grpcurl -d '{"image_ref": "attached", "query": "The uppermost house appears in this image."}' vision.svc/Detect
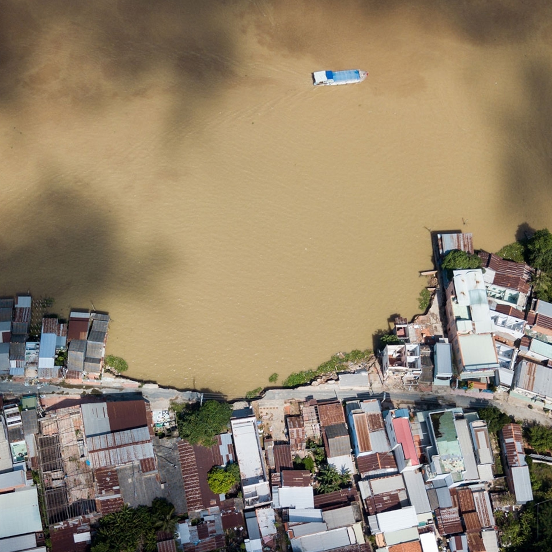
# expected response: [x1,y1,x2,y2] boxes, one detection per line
[433,233,474,256]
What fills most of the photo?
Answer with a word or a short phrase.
water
